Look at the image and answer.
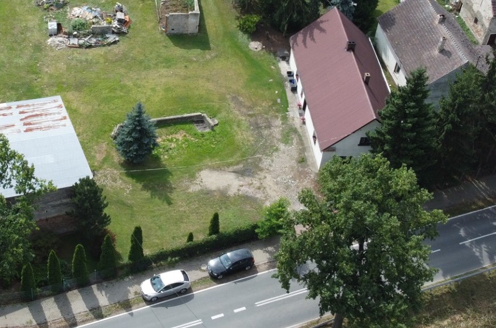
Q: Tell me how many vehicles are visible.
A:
2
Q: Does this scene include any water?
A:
No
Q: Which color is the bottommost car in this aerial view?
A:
white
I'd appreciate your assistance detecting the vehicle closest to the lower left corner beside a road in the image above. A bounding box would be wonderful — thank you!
[139,266,192,300]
